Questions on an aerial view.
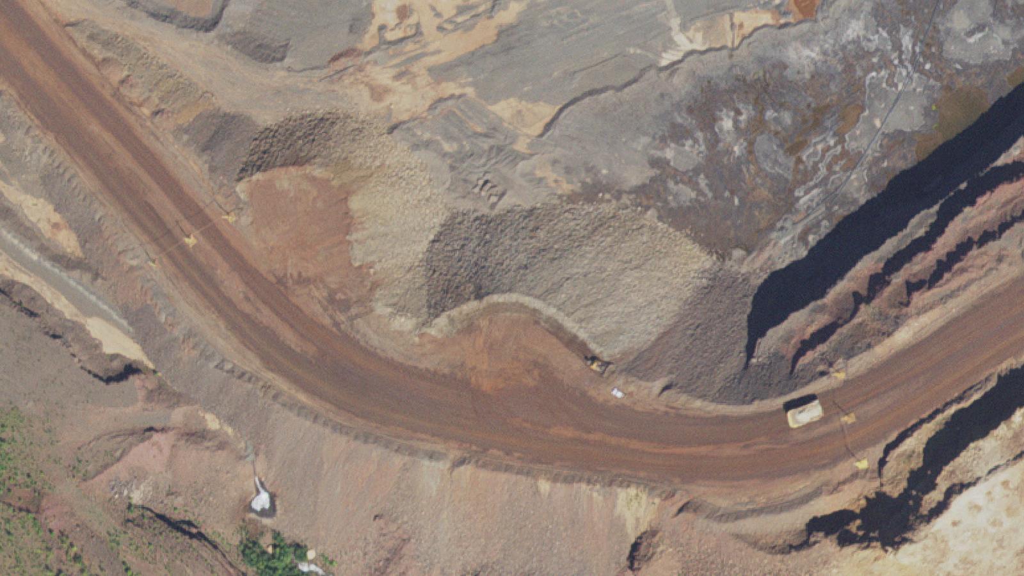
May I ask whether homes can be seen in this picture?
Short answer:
No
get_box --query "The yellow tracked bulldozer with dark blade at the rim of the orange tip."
[587,357,609,377]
